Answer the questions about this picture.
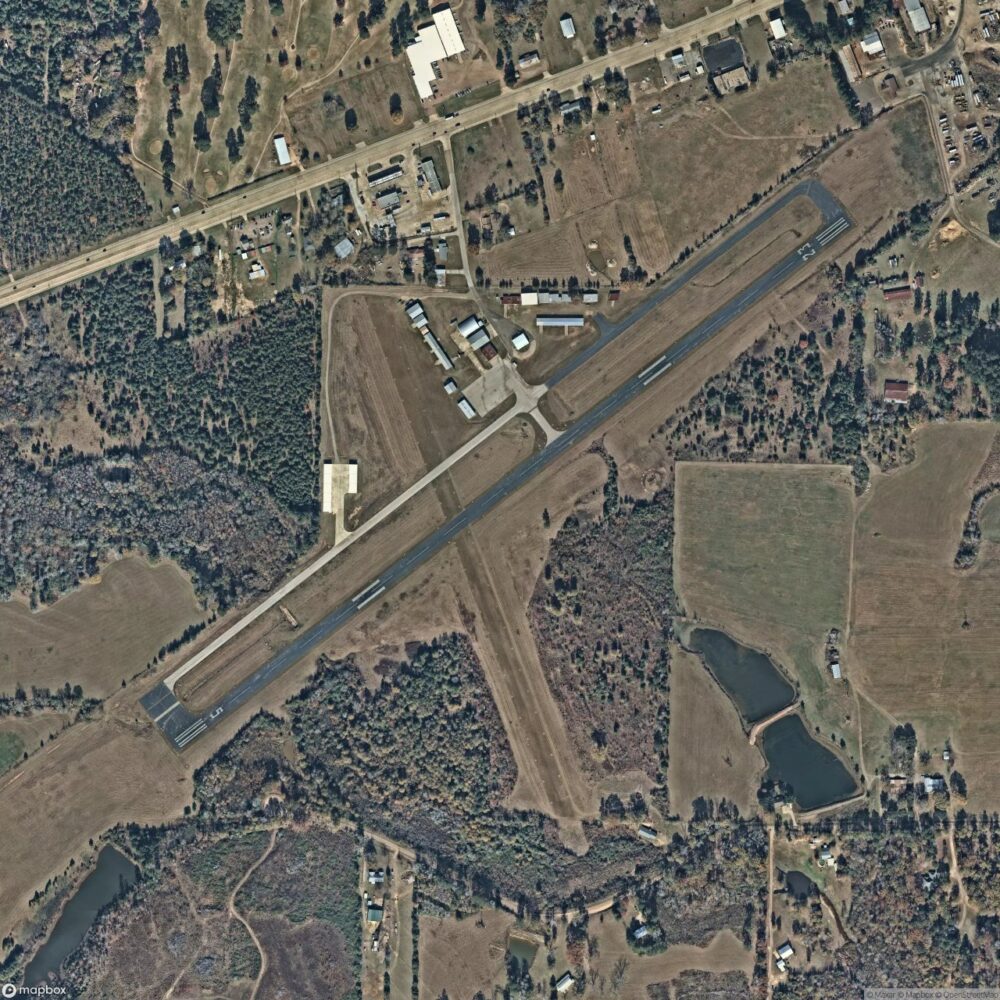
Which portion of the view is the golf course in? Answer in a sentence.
The golf course is in the top left part of the image.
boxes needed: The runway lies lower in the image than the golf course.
[174,220,855,751]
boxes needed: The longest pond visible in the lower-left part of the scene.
[24,845,139,987]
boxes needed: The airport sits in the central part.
[0,177,859,829]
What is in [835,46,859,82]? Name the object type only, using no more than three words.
shed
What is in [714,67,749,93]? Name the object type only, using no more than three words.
building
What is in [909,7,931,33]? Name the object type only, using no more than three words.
building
